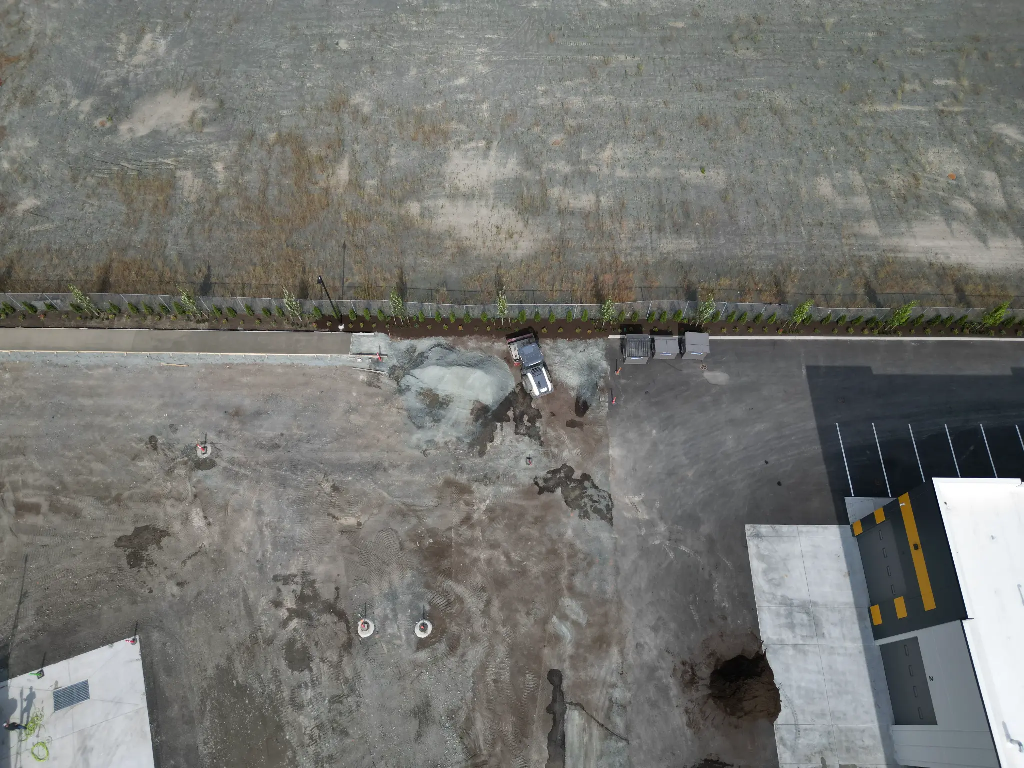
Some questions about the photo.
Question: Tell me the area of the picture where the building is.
bottom right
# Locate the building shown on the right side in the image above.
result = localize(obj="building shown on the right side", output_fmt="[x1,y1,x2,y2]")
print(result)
[851,477,1024,768]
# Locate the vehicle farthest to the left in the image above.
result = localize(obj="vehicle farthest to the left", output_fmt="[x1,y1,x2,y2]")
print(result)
[507,332,556,403]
